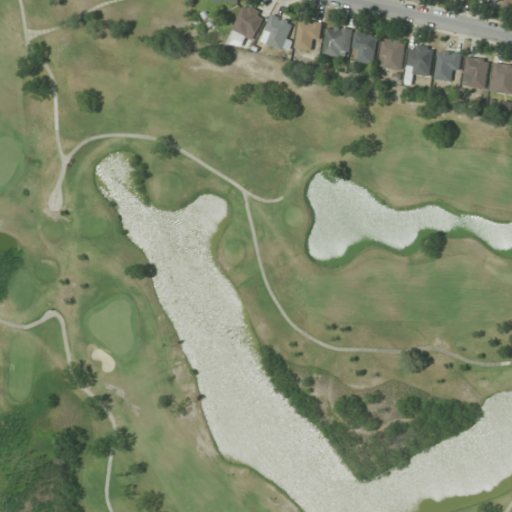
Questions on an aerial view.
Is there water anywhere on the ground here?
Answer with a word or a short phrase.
Yes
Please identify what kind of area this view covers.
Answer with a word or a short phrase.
golf course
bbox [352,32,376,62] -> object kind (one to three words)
house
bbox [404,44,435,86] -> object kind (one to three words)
house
